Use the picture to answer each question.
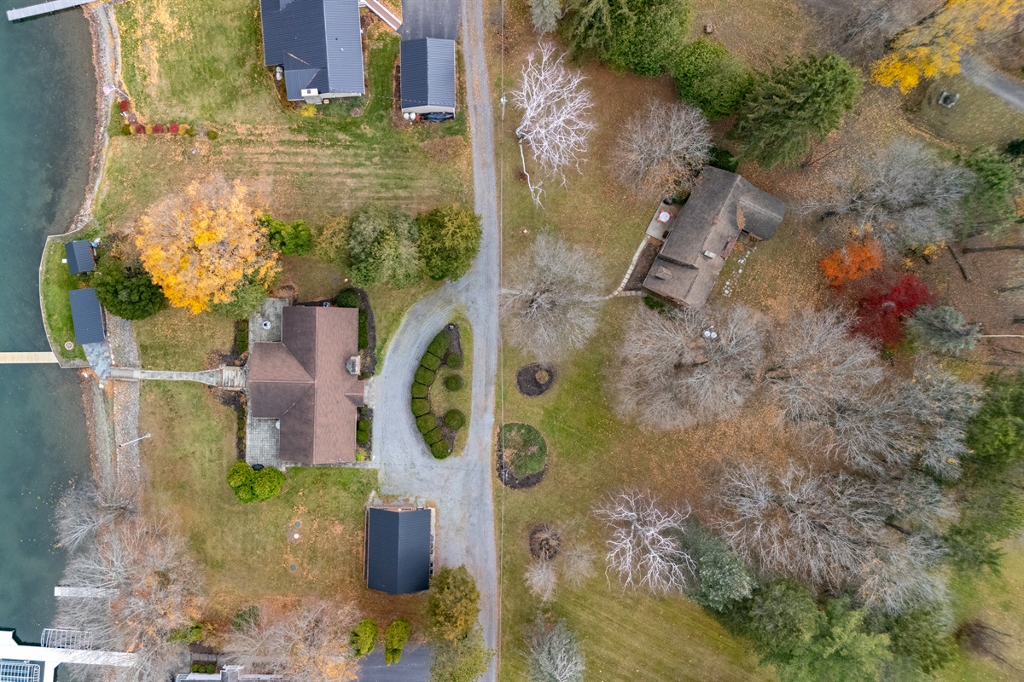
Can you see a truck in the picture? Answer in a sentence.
No, no truck can be seen from above.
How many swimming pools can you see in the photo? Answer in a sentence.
There are no swimming pools in the image.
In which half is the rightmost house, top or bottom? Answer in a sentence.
The top half of the photo is where the rightmost house is.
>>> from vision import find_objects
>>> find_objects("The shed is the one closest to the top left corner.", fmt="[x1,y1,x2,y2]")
[65,240,97,274]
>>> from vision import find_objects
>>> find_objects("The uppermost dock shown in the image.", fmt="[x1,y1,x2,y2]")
[4,0,100,23]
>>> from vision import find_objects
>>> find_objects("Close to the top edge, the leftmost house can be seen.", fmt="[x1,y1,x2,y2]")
[259,0,367,107]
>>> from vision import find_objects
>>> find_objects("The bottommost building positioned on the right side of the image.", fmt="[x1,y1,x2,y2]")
[642,165,786,308]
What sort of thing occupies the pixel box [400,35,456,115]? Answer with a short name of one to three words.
building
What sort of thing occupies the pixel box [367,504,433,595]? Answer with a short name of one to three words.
building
